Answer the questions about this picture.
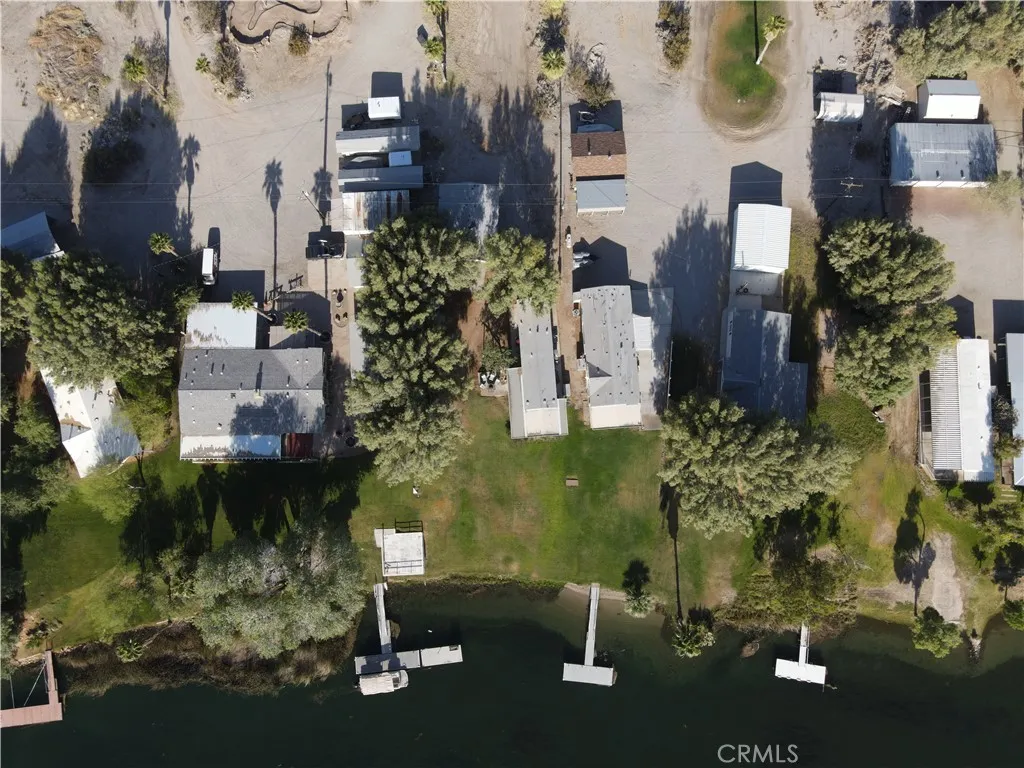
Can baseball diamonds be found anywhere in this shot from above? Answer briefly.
No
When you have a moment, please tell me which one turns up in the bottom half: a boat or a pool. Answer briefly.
boat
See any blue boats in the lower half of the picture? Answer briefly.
No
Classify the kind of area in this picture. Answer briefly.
residential area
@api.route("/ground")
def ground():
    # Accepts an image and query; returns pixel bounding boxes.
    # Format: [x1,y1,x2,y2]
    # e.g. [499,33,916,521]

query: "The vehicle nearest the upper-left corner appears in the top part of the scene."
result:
[200,248,219,285]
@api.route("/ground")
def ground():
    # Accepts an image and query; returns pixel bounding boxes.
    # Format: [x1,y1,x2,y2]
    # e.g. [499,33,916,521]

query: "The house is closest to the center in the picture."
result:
[507,301,568,438]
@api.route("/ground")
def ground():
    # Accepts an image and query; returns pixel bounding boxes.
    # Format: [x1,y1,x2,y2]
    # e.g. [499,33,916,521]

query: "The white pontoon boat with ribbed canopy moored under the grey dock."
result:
[358,671,411,700]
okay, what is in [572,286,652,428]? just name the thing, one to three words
house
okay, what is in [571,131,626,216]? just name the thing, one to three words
shed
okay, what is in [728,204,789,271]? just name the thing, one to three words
building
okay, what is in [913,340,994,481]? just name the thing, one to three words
house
